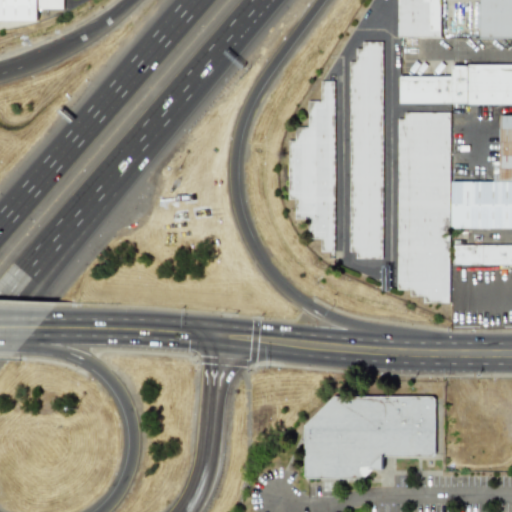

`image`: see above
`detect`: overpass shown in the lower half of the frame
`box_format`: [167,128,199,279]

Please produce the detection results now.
[0,301,102,382]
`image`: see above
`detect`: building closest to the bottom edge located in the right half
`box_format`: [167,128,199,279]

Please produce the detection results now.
[304,396,438,479]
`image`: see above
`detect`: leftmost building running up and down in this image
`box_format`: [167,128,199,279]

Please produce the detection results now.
[292,80,336,254]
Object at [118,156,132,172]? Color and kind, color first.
white vehicle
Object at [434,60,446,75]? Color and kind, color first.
white vehicle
